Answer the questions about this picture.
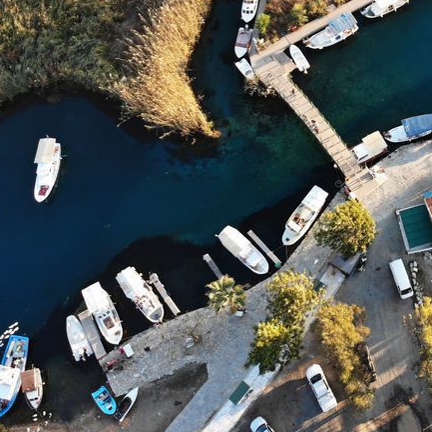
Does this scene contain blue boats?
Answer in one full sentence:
Yes, I can see a blue boat in this picture.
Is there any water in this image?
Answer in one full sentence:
Yes, water shows up in the scene.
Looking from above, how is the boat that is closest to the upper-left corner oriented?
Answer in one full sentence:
What the image shows is the boat that is closest to the upper-left corner lying from top to bottom.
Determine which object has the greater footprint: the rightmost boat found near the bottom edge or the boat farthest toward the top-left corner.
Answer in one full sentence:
Compared with the rightmost boat found near the bottom edge, the boat farthest toward the top-left corner is the bigger one.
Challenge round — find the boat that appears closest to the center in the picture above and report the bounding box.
[216,223,263,273]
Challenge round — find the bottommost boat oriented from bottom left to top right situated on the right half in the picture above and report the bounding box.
[286,180,330,244]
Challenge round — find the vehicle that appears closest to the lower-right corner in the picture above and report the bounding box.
[305,362,341,416]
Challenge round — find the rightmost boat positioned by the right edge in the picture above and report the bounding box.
[389,112,432,142]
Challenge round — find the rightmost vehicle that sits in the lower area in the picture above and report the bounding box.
[387,256,417,302]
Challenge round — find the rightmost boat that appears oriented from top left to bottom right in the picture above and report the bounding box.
[291,45,312,77]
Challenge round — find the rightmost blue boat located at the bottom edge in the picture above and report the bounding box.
[91,385,114,417]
